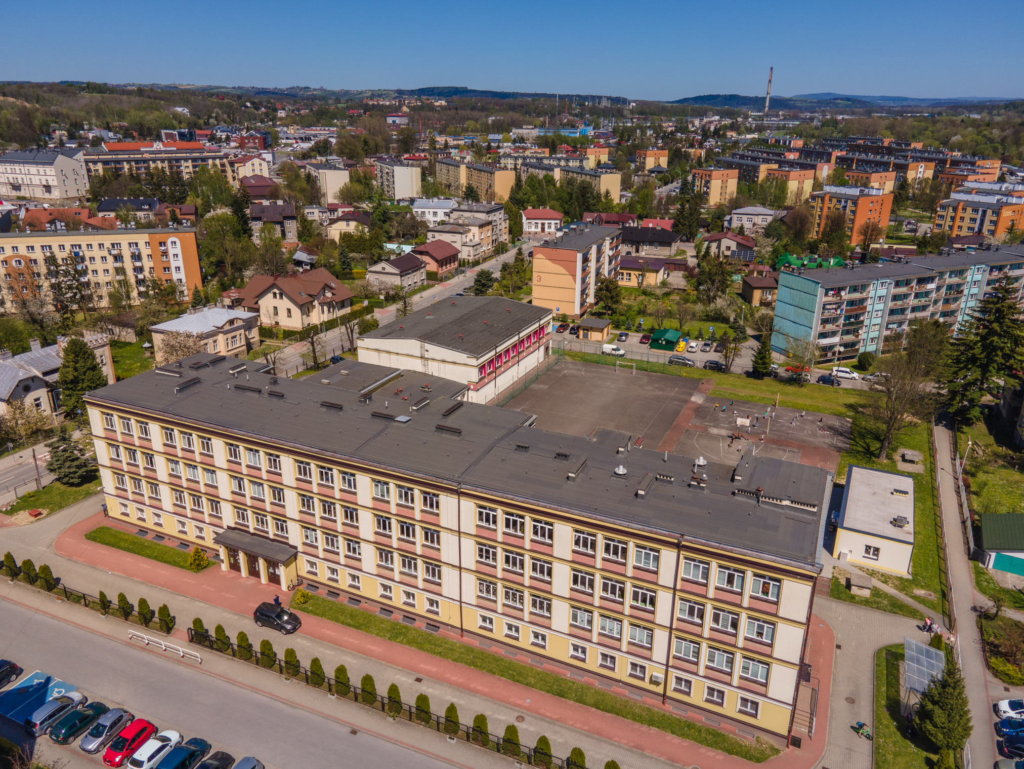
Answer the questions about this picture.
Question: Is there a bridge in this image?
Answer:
No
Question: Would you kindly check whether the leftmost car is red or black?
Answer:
black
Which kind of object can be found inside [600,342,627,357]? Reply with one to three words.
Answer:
vehicle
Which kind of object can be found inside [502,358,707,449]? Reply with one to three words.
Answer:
sports court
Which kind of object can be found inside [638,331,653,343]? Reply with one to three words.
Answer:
vehicle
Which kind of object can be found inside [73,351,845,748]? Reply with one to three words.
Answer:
building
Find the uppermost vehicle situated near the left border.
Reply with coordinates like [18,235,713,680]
[0,658,22,687]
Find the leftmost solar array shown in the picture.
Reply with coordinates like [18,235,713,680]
[724,246,767,265]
